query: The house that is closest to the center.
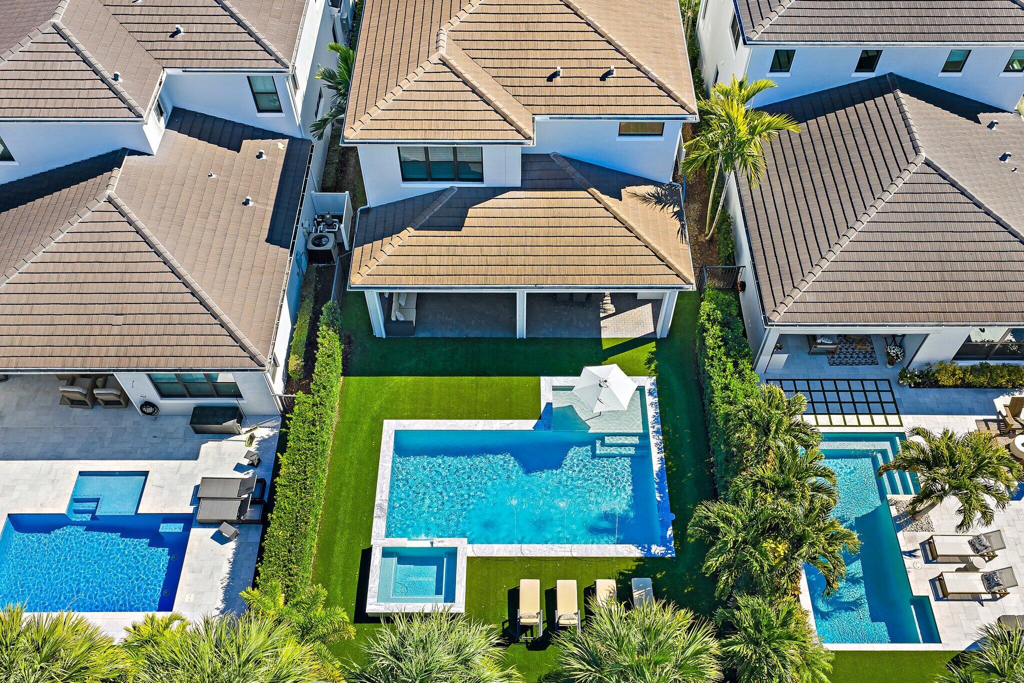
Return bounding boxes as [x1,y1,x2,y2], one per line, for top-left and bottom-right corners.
[338,0,702,338]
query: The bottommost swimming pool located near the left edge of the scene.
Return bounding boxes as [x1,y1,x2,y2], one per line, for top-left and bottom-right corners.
[0,463,200,621]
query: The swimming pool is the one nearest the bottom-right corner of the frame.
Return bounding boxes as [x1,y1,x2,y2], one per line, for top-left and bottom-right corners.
[797,426,951,652]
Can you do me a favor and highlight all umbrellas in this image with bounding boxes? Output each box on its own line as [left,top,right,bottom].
[570,365,639,418]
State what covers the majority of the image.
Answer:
buildings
